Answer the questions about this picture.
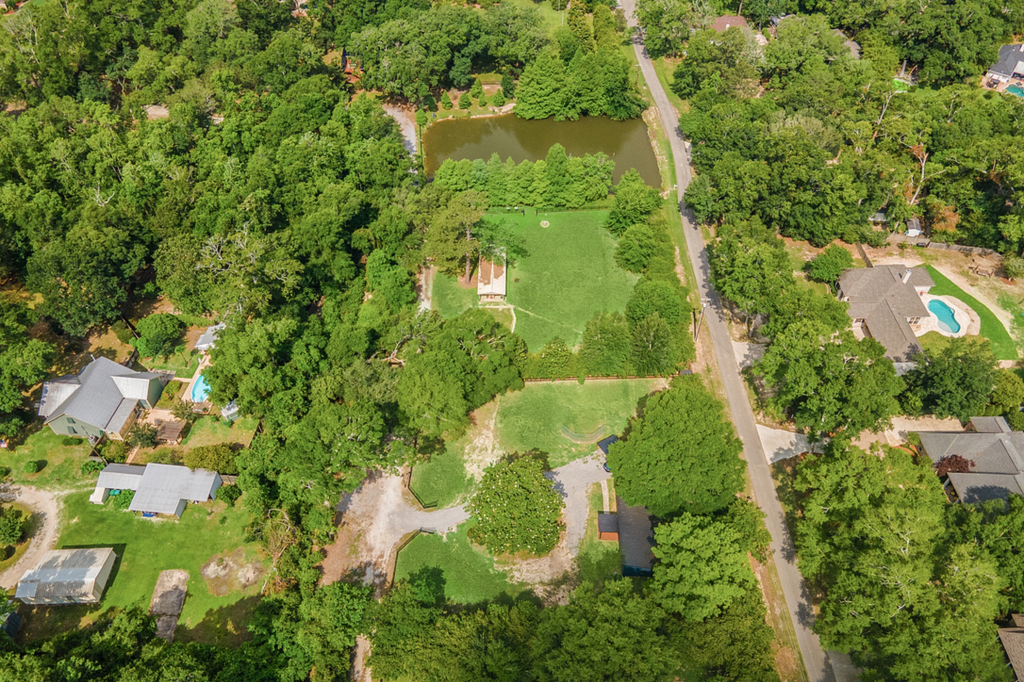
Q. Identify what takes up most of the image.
trees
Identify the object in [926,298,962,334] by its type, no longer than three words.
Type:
swimming pool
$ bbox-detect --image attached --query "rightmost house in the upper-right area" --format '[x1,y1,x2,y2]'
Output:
[984,42,1024,87]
